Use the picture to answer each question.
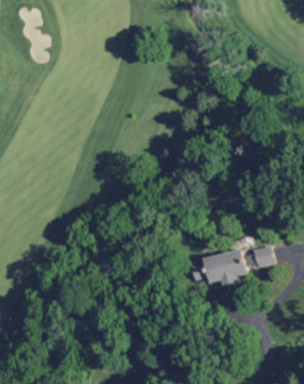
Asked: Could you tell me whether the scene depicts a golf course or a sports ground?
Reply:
golf course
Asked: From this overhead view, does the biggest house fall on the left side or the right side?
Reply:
right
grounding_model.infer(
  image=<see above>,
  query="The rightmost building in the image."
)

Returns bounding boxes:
[254,246,277,268]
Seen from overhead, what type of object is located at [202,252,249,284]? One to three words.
house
